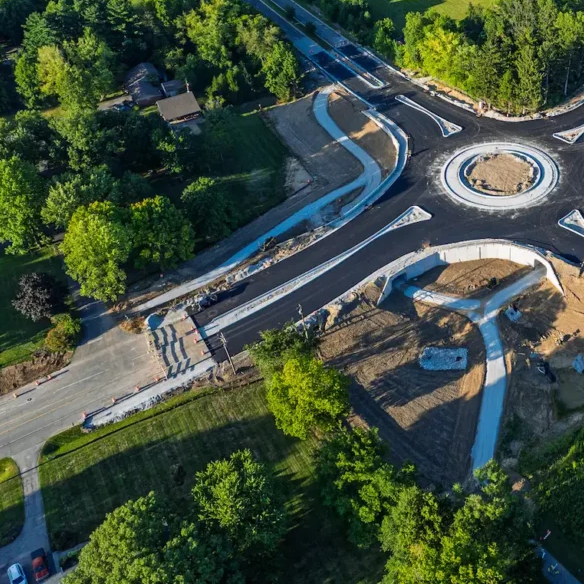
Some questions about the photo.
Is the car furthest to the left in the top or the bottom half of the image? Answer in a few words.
bottom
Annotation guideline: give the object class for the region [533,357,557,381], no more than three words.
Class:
work vehicle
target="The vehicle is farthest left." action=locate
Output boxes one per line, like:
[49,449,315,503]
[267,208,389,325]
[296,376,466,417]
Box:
[3,554,26,584]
